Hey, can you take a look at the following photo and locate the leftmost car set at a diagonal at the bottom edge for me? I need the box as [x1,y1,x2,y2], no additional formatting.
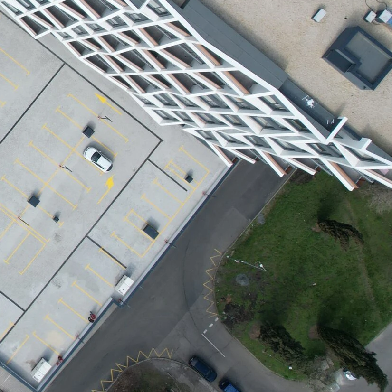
[189,355,221,387]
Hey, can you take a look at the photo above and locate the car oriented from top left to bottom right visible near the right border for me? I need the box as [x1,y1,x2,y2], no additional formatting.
[343,367,373,391]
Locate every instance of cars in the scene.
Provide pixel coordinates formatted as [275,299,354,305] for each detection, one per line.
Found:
[83,145,118,176]
[217,377,246,392]
[189,355,221,387]
[343,367,373,391]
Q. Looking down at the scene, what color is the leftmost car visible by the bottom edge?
black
